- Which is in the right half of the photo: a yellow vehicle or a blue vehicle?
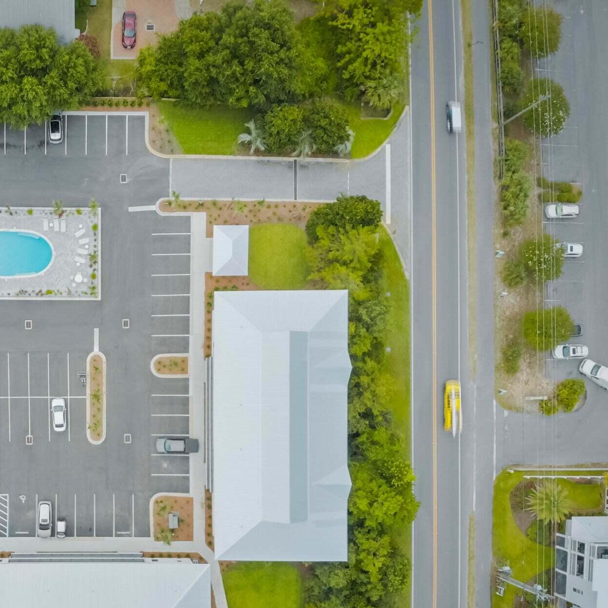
yellow vehicle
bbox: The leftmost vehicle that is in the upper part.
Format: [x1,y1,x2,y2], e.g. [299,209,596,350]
[47,112,63,145]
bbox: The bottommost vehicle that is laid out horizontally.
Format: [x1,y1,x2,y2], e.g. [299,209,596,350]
[156,437,198,454]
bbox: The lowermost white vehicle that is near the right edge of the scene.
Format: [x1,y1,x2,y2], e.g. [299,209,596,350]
[576,361,608,391]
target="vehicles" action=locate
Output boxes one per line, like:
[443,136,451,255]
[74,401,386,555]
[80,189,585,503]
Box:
[443,98,465,136]
[37,500,53,539]
[566,323,587,338]
[156,437,198,454]
[543,201,582,220]
[47,112,63,145]
[121,10,137,49]
[552,343,590,359]
[576,361,608,391]
[57,516,66,537]
[442,380,467,434]
[550,241,587,257]
[51,397,67,432]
